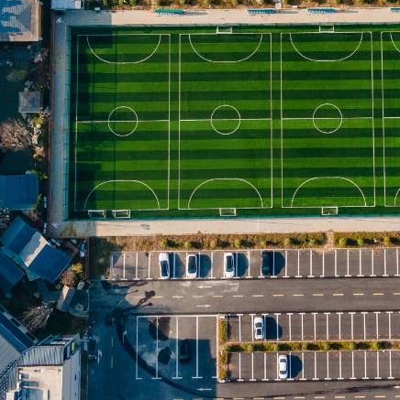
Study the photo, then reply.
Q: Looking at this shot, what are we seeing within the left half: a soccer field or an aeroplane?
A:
soccer field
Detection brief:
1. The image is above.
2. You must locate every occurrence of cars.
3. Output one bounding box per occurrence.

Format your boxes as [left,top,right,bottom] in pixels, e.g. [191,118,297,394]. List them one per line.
[223,253,234,277]
[160,253,169,277]
[253,316,264,338]
[278,354,288,378]
[180,338,190,362]
[262,253,272,276]
[186,253,197,276]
